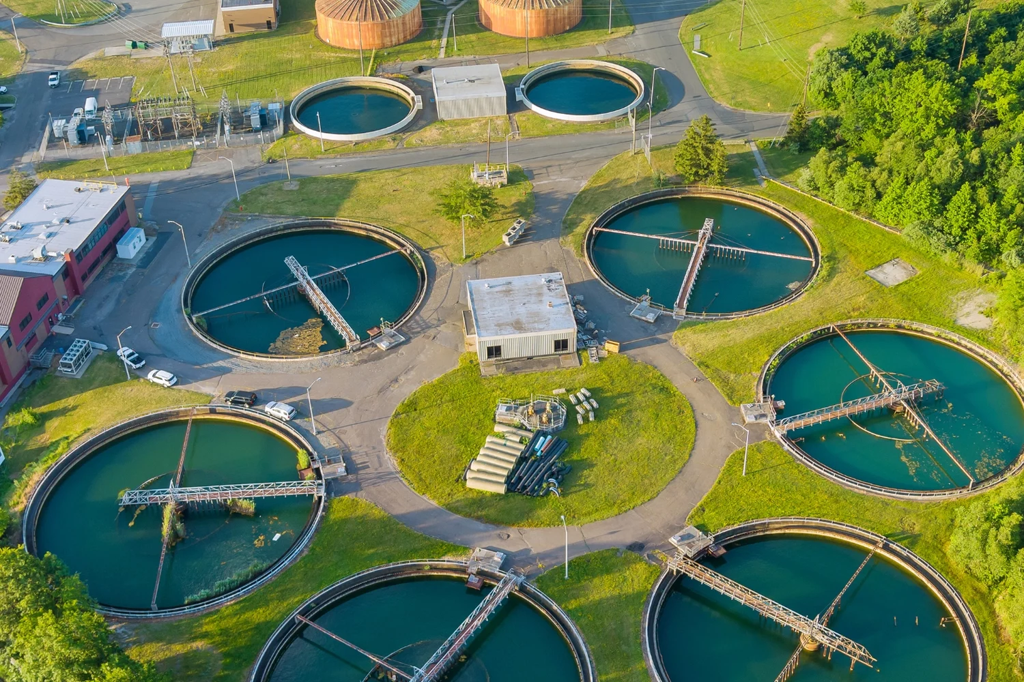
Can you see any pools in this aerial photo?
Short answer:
No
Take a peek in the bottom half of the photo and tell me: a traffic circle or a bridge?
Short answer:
bridge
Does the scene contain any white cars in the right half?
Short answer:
No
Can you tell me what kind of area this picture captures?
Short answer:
industrial area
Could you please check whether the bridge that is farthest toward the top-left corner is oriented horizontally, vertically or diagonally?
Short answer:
diagonally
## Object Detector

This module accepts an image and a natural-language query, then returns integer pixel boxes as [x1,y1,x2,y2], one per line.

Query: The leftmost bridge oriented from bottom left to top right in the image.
[410,567,529,682]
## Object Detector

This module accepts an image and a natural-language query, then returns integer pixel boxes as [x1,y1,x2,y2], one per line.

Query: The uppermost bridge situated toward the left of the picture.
[284,257,363,356]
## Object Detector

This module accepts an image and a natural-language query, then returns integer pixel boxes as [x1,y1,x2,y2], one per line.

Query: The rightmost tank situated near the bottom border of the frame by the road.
[646,517,984,682]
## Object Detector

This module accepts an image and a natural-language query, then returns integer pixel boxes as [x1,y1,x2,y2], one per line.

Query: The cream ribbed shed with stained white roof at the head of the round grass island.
[457,271,579,361]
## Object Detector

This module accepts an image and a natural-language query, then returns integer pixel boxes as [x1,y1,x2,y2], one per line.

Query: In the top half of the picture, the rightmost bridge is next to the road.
[674,218,714,322]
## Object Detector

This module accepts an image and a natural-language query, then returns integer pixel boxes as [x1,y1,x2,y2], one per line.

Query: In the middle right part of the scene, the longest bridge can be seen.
[762,381,948,437]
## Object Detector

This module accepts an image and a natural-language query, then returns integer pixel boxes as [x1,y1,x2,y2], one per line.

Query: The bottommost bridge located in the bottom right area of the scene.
[658,551,875,669]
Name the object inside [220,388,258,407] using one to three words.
car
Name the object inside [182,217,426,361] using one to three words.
storage tank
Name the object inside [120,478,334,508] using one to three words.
bridge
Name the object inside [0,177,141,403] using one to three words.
building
